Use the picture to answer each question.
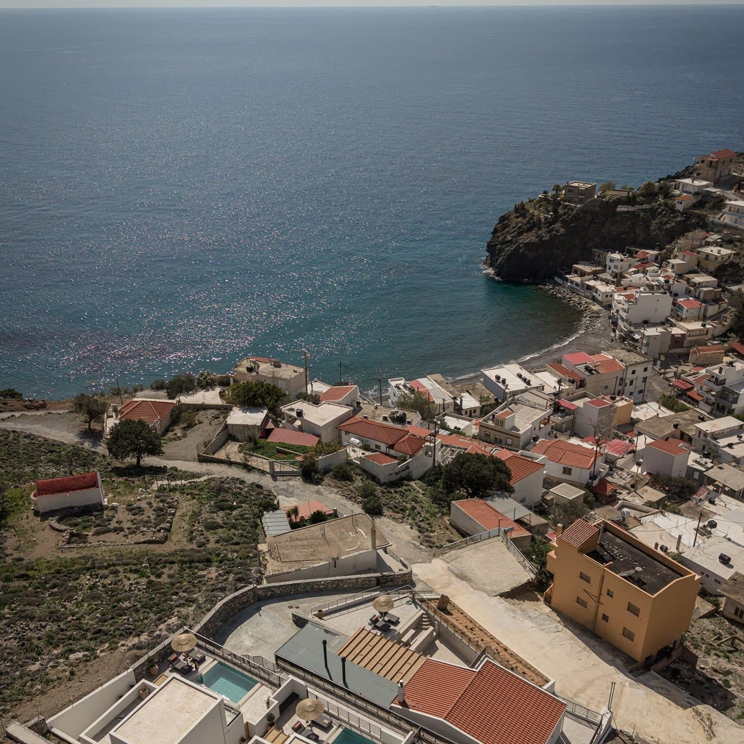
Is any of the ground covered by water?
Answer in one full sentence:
Yes, water shows up in the scene.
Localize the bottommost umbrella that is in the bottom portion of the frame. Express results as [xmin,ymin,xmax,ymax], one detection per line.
[296,696,326,728]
